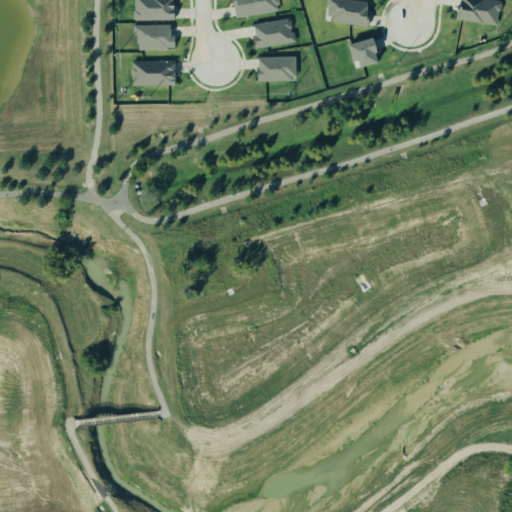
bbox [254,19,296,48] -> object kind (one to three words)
house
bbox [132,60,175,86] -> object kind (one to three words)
house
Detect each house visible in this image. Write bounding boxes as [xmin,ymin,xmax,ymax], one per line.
[258,56,298,81]
[132,60,175,86]
[328,0,370,26]
[348,38,380,68]
[133,0,174,19]
[235,0,280,18]
[136,24,173,50]
[254,19,296,48]
[456,0,501,26]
